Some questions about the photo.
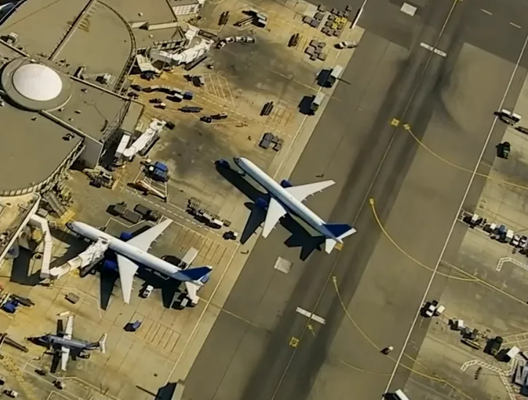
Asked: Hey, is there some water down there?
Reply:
No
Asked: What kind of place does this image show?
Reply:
airport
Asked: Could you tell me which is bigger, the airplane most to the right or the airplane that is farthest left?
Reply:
the airplane most to the right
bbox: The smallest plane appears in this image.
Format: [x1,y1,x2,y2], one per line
[30,320,97,373]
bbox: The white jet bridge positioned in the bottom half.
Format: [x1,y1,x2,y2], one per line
[31,215,113,283]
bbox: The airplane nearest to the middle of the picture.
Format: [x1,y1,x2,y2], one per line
[234,158,355,251]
